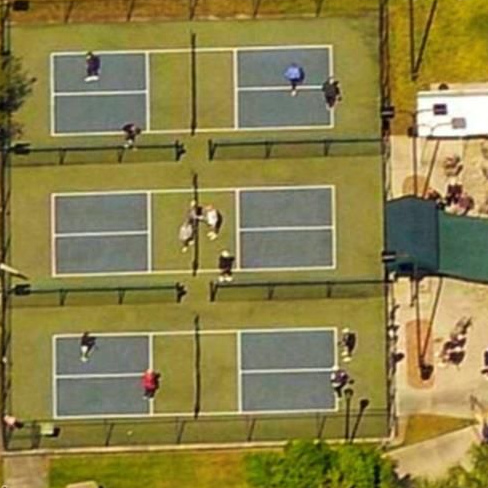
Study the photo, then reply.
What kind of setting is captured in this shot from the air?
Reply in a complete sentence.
This image shows a sports ground.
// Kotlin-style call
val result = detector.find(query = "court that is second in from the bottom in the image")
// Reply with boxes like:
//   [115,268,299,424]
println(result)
[4,154,388,306]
